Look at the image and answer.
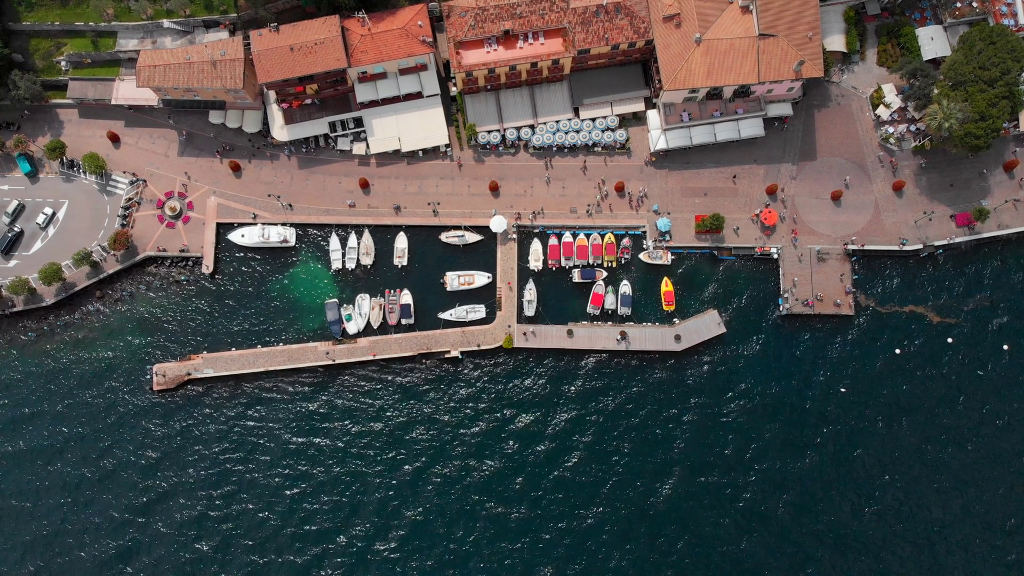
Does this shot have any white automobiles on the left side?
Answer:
Yes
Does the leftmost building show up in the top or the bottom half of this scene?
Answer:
top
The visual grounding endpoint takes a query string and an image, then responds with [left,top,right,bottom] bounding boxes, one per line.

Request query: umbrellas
[594,118,606,131]
[542,133,555,146]
[566,133,578,146]
[505,129,518,141]
[546,122,558,134]
[878,82,898,99]
[656,218,671,233]
[489,132,501,144]
[590,130,602,142]
[353,142,366,155]
[477,132,489,145]
[337,138,350,152]
[582,120,594,133]
[872,103,893,122]
[554,132,567,145]
[520,127,533,141]
[530,135,543,148]
[570,119,582,131]
[602,130,615,144]
[558,121,571,133]
[614,130,626,142]
[489,216,507,233]
[759,208,777,226]
[534,125,546,137]
[606,116,618,129]
[577,131,589,144]
[881,95,903,112]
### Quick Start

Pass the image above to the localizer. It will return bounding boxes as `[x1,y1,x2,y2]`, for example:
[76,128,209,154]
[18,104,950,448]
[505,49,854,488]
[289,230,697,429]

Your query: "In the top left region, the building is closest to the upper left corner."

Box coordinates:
[67,77,118,106]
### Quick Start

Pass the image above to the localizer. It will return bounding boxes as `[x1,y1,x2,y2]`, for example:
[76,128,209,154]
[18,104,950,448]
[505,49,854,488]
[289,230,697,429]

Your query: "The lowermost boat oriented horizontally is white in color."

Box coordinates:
[437,305,487,329]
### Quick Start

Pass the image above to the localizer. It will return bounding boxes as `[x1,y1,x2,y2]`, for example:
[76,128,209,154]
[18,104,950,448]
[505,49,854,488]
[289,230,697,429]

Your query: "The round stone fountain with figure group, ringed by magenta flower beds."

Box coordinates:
[162,199,182,217]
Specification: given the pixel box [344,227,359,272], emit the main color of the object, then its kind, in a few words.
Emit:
white boat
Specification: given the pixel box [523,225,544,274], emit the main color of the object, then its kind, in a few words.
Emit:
white boat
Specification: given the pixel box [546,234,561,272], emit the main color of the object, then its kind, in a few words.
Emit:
red boat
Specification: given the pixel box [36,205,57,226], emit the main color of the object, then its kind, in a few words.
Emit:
white car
